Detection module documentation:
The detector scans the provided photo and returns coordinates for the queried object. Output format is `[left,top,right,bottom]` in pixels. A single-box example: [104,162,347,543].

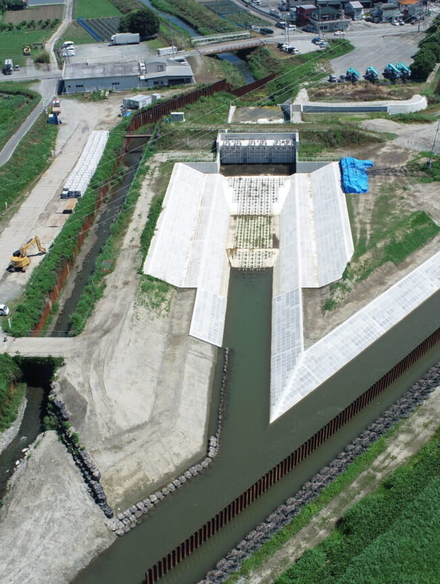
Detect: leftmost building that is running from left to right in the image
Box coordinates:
[58,58,140,93]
